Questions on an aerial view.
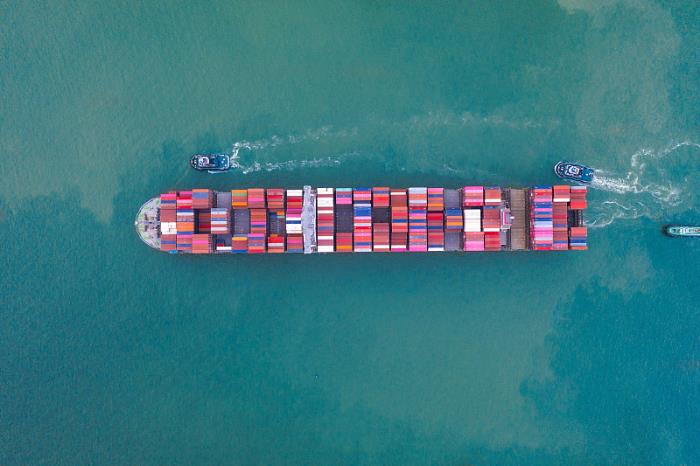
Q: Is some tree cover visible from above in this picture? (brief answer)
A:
No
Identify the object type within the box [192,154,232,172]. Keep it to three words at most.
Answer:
boat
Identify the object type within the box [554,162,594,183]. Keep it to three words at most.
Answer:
boat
